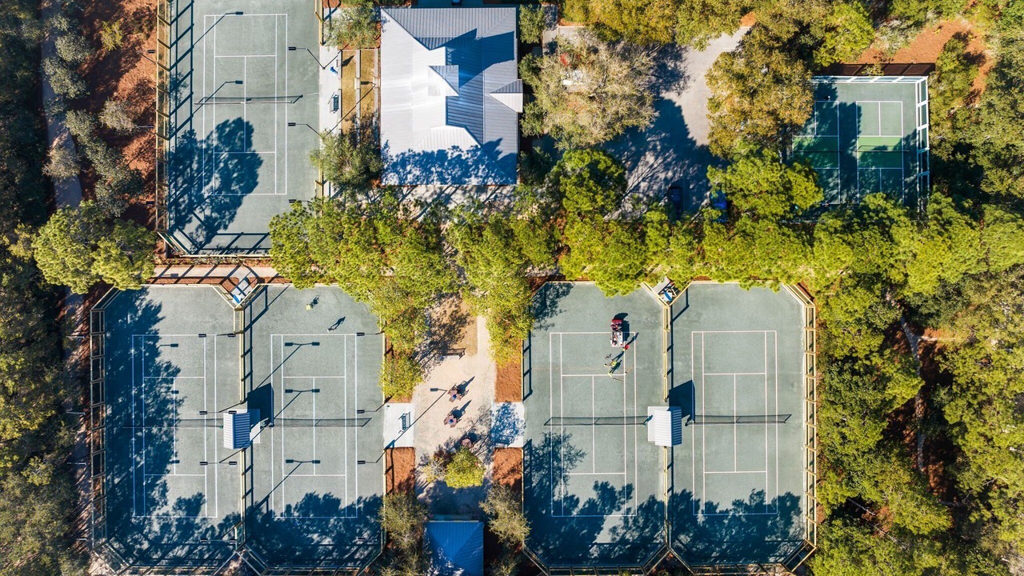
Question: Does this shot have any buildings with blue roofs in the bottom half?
Yes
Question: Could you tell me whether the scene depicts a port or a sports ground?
sports ground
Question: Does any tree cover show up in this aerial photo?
Yes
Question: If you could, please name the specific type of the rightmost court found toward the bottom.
tennis court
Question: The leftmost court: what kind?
tennis court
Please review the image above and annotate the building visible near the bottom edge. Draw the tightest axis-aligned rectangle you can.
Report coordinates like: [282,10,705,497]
[428,511,485,576]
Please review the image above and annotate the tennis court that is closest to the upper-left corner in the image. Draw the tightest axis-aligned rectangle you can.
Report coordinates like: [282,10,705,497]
[171,0,321,253]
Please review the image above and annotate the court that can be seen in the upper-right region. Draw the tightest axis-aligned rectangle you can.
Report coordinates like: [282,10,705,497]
[778,83,918,220]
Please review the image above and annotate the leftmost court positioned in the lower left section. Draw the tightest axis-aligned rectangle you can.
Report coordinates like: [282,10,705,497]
[106,286,245,564]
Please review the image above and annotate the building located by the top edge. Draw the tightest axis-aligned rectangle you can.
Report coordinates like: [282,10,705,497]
[380,6,523,186]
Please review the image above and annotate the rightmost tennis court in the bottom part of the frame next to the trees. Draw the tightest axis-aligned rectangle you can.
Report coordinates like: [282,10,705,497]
[666,283,805,565]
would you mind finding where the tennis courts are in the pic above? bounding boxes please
[171,0,321,253]
[244,286,385,564]
[106,286,245,564]
[525,283,667,565]
[666,283,805,565]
